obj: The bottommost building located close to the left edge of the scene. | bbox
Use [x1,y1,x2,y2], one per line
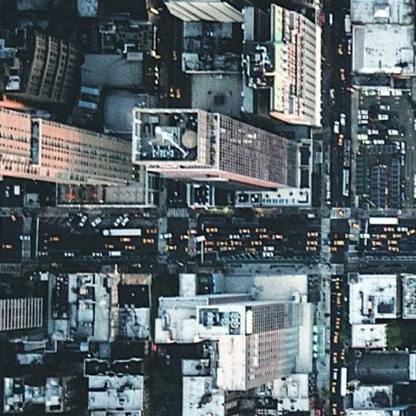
[2,373,79,414]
